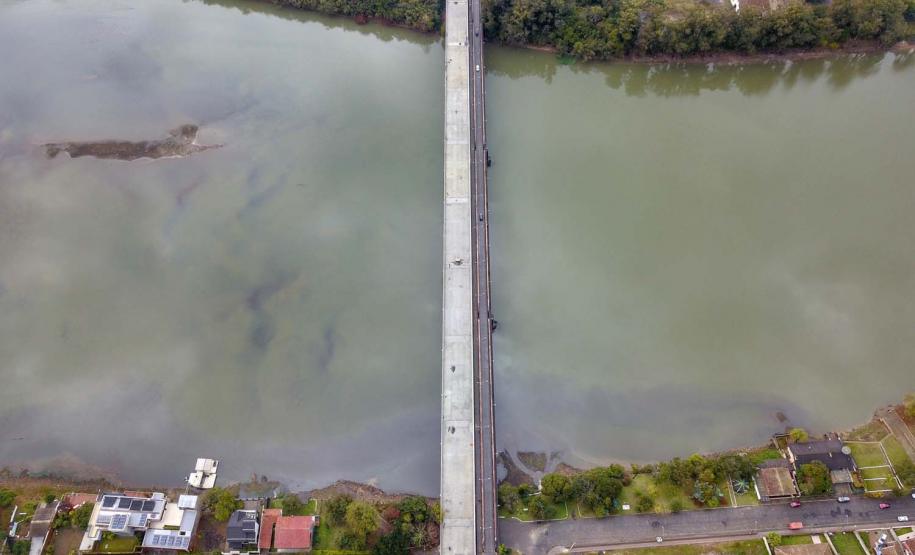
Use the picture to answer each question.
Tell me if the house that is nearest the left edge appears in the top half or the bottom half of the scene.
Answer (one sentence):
It is in the bottom half that the house that is nearest the left edge appears.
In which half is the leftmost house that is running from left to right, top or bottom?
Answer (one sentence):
The leftmost house that is running from left to right sits in the bottom half of the picture.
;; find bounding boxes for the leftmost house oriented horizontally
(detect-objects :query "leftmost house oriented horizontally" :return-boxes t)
[79,492,203,551]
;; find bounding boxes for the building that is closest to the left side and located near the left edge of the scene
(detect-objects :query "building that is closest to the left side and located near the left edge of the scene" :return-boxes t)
[29,502,62,537]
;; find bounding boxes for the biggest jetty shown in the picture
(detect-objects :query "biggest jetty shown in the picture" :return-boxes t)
[184,458,221,495]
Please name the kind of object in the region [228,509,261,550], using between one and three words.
house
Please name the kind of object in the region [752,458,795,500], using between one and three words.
house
